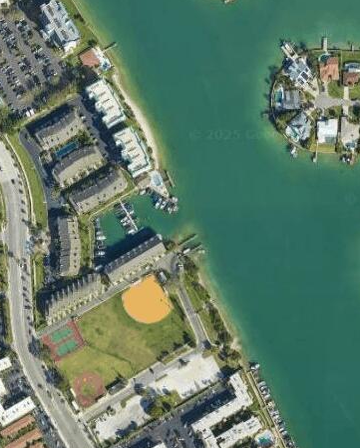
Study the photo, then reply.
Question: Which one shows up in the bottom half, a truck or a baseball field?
baseball field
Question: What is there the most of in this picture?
water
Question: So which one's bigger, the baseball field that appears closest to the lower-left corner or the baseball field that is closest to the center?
the baseball field that is closest to the center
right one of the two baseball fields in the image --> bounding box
[116,274,188,347]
